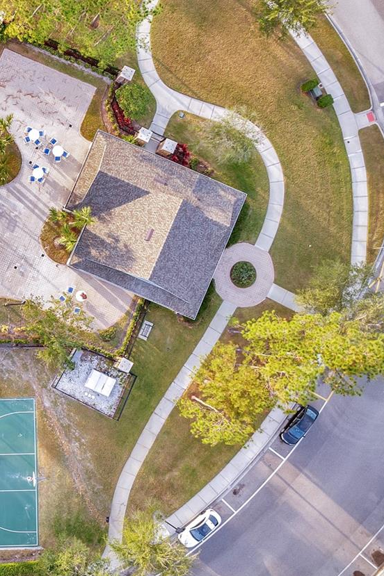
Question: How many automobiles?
2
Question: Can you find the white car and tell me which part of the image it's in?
bottom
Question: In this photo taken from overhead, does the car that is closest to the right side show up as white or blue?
blue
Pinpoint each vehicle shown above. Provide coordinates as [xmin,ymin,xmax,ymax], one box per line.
[179,509,224,550]
[282,401,322,447]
